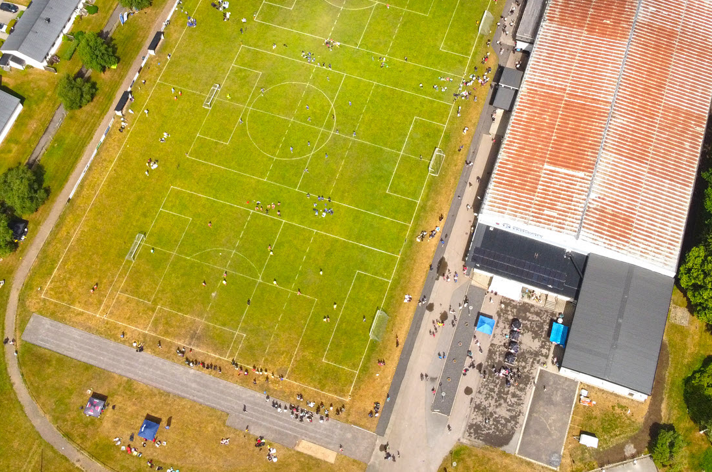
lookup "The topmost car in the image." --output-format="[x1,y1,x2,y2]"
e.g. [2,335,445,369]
[0,2,21,14]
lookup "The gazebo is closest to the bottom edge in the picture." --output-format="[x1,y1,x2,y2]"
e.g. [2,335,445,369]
[138,421,162,443]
